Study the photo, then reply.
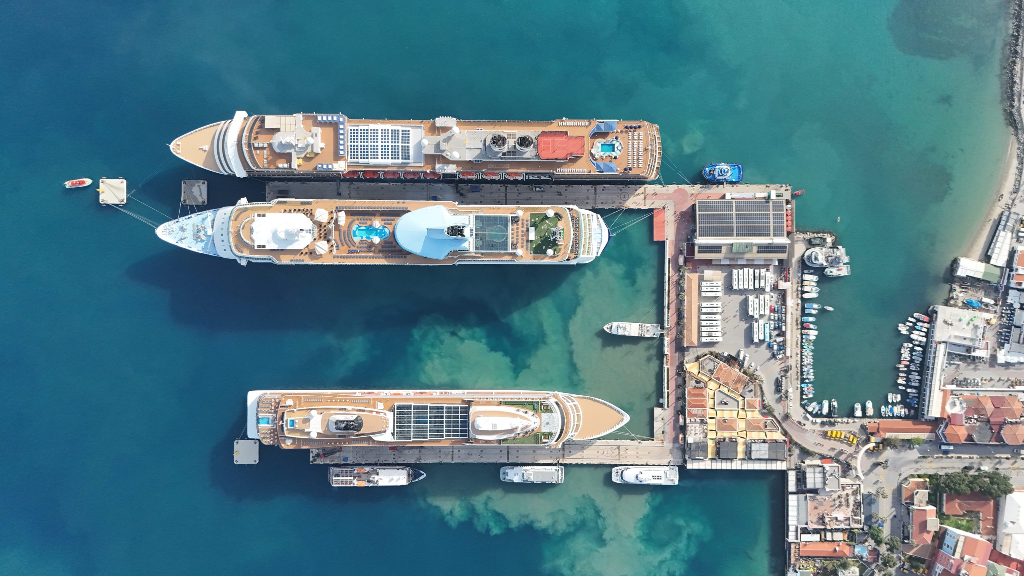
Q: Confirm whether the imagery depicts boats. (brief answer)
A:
Yes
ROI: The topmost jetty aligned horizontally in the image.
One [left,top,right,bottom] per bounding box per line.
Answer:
[266,183,792,209]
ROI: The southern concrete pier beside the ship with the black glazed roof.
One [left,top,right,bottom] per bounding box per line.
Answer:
[310,439,682,464]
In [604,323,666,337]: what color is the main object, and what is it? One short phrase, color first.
white ship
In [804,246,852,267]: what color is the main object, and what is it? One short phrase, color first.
white boat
